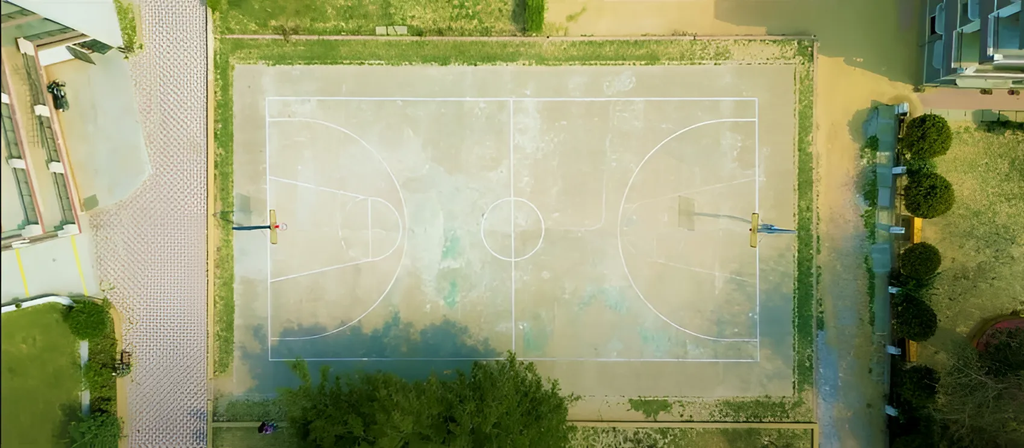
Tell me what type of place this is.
sports ground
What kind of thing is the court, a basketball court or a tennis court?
basketball court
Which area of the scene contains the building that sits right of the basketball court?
top right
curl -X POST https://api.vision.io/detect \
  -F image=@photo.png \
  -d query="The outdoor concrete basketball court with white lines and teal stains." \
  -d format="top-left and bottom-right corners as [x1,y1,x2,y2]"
[233,64,796,397]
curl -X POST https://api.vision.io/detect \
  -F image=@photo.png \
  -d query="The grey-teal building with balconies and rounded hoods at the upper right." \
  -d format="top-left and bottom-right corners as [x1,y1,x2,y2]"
[922,0,1024,94]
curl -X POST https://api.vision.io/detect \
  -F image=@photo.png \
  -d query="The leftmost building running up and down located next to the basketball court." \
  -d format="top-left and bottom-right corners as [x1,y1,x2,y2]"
[0,0,115,256]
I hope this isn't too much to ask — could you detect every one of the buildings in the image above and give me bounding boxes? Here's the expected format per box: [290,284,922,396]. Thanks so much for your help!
[0,0,115,256]
[922,0,1024,94]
